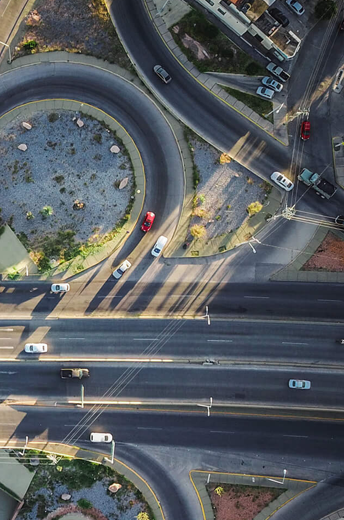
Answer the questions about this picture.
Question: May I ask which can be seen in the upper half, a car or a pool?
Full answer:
There is a car in the upper half.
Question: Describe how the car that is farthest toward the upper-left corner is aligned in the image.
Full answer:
The car that is farthest toward the upper-left corner is laid out diagonally.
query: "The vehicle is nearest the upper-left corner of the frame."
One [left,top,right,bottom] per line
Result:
[152,63,173,84]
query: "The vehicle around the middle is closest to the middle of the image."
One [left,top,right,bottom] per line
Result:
[150,233,167,258]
